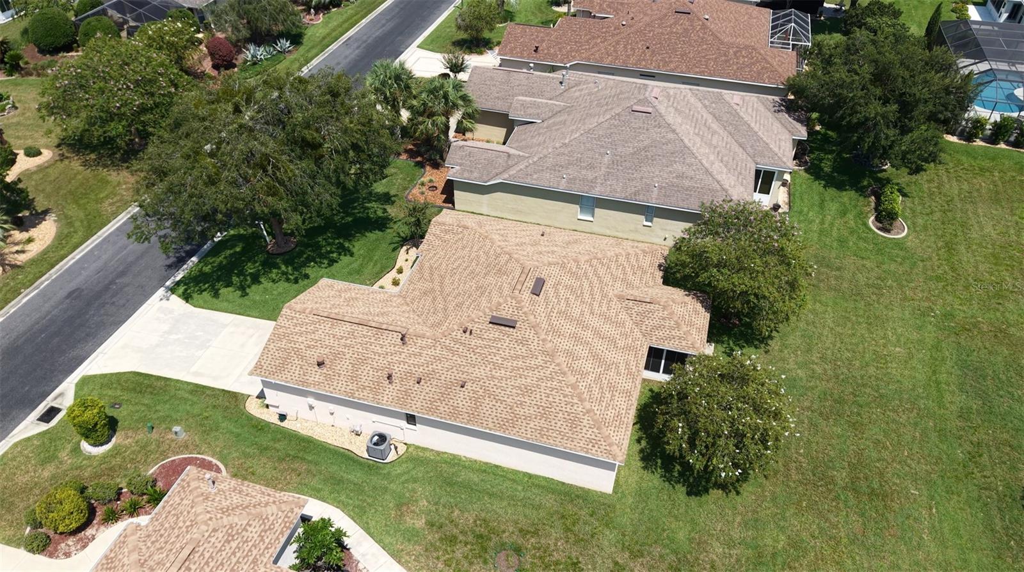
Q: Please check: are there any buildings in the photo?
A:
Yes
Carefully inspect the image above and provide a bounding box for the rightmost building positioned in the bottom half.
[240,207,715,494]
